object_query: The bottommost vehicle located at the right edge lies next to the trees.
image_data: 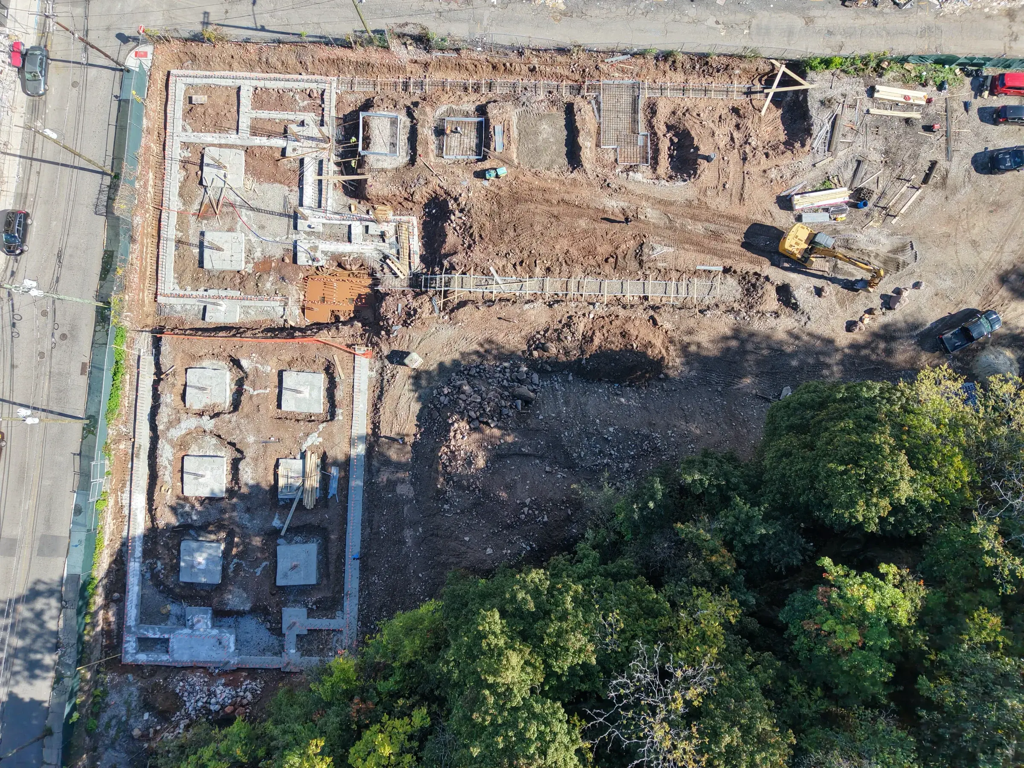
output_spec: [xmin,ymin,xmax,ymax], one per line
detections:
[934,309,1002,355]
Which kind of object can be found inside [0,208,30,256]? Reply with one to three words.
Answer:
car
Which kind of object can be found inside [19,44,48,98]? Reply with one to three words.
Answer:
car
